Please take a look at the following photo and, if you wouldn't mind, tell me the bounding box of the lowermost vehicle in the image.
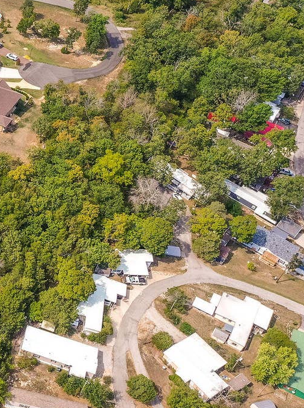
[70,316,83,332]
